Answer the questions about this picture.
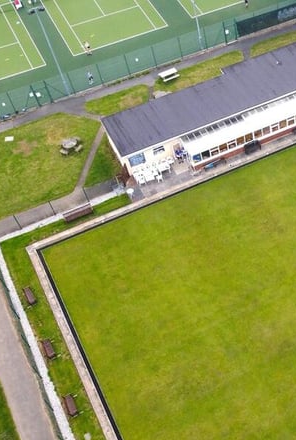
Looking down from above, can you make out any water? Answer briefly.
No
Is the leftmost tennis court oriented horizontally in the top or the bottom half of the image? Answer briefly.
top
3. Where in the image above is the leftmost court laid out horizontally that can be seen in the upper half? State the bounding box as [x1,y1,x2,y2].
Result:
[42,0,167,56]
